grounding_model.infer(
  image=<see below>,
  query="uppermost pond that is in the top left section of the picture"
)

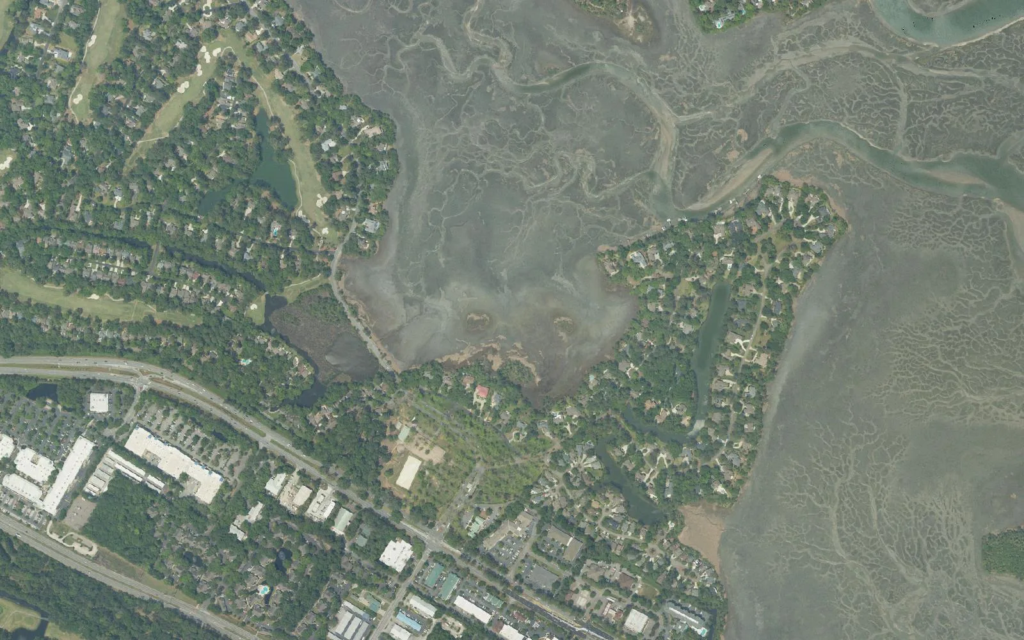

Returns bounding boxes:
[200,111,298,215]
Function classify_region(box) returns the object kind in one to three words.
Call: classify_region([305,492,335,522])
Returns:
building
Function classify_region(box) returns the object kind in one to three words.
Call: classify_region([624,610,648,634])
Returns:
building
